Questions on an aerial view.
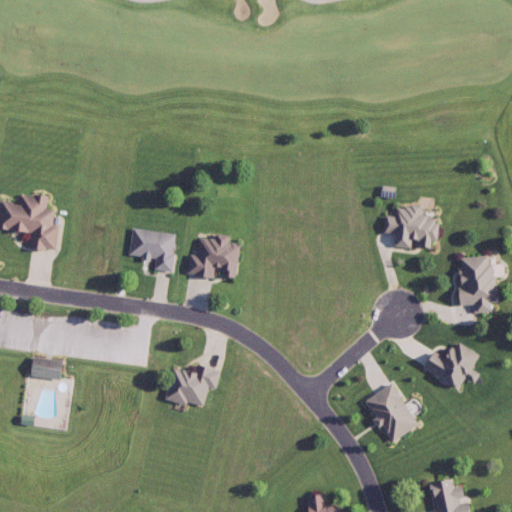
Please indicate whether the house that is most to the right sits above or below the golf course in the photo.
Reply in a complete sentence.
The house that is most to the right is below the golf course.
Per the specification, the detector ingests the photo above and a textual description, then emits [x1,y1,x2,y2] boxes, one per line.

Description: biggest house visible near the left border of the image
[1,194,57,251]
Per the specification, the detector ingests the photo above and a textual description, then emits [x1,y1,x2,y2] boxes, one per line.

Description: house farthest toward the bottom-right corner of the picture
[430,479,472,512]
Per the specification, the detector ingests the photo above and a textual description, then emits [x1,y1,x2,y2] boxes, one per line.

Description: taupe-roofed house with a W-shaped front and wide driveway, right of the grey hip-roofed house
[186,235,242,280]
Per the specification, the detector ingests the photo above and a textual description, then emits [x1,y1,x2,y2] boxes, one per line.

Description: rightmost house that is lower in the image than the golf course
[460,256,496,314]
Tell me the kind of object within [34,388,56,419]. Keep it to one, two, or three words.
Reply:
swimming pool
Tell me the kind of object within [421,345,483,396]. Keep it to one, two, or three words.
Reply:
house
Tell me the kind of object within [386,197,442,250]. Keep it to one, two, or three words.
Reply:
house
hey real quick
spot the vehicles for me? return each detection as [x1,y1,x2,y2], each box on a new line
[211,356,218,366]
[374,309,380,320]
[338,368,348,377]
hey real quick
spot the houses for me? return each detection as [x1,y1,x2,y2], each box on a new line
[1,194,57,251]
[430,479,472,512]
[129,229,176,272]
[306,494,338,512]
[186,235,242,280]
[460,256,496,314]
[386,197,442,250]
[366,384,420,443]
[421,345,483,396]
[164,369,222,410]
